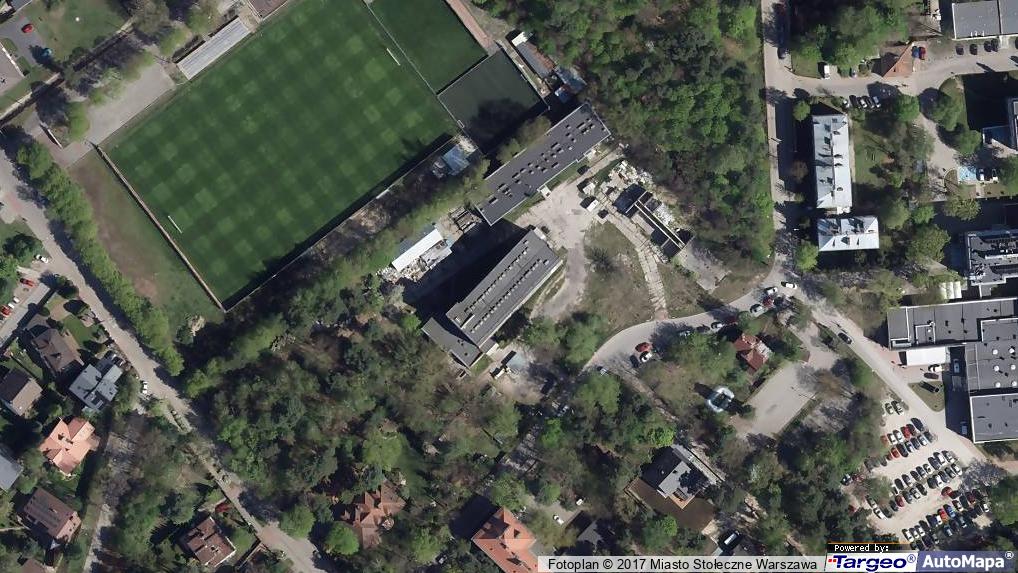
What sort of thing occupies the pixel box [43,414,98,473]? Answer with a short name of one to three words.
house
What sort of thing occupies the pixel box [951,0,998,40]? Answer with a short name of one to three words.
building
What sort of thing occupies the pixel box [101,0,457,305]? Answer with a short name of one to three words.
soccer field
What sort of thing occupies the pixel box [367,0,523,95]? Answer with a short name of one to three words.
sports field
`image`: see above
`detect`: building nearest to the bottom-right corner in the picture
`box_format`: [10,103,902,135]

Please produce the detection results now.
[967,393,1018,444]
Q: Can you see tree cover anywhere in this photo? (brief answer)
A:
Yes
